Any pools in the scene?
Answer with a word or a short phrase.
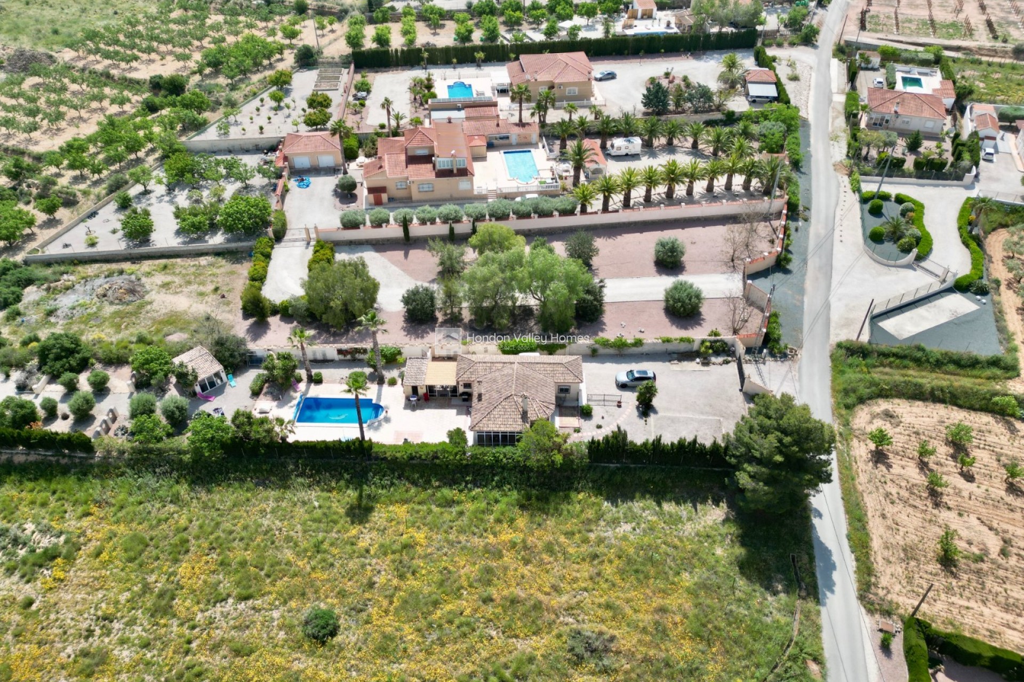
Yes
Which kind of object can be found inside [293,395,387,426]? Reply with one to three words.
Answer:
swimming pool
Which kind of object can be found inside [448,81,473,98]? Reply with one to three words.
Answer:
swimming pool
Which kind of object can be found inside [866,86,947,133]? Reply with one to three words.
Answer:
house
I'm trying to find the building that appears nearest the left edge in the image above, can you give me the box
[173,345,227,394]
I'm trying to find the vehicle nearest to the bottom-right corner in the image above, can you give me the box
[614,367,657,387]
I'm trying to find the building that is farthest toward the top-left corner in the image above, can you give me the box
[282,131,340,167]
